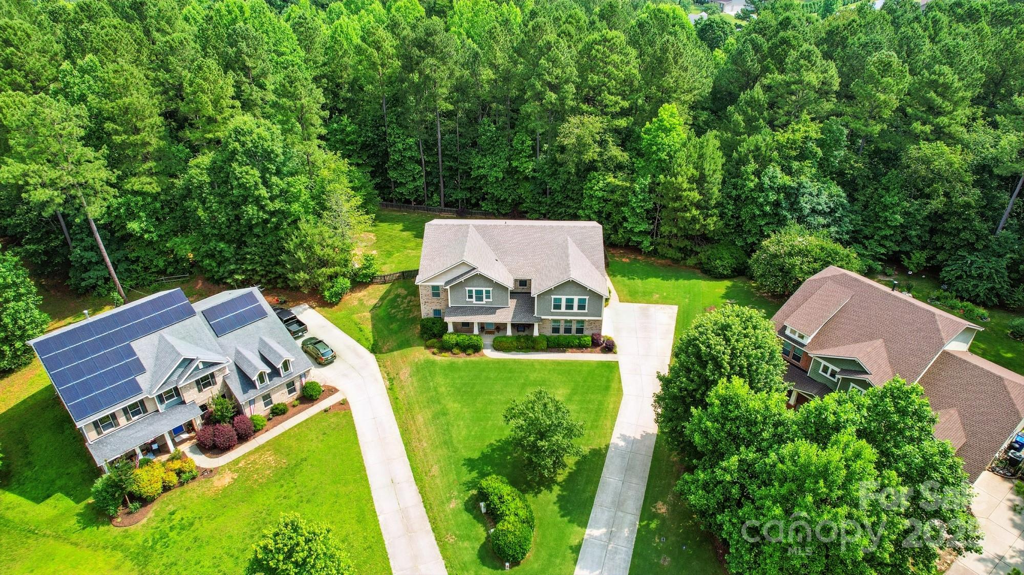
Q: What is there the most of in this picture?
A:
trees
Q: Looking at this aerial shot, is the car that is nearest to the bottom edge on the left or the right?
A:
left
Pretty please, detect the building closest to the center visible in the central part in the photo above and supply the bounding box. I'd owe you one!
[415,219,609,340]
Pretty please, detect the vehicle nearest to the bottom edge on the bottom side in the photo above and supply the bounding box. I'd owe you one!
[298,335,335,365]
